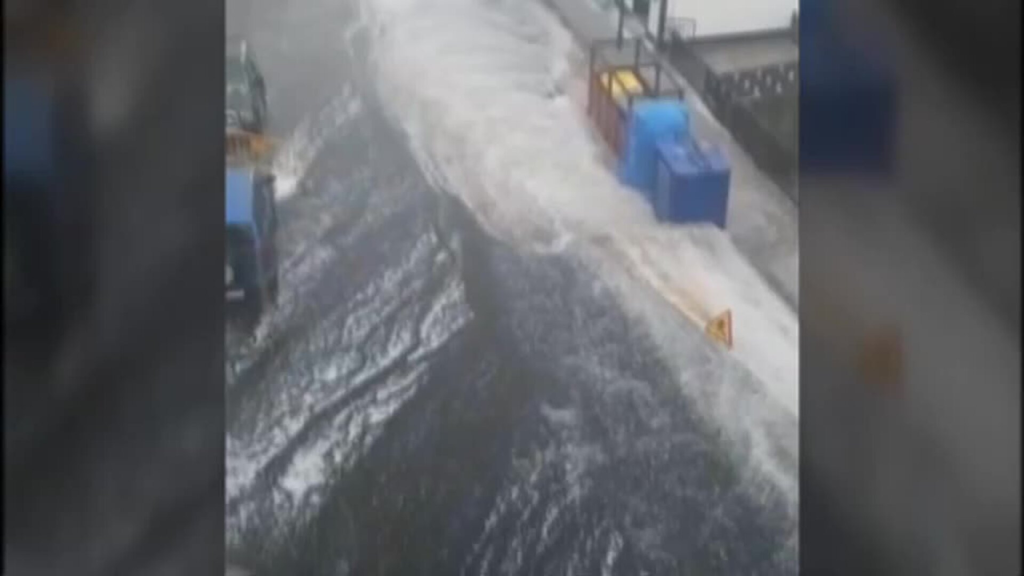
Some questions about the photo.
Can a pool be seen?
No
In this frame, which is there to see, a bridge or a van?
van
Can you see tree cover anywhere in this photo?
No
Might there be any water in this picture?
Yes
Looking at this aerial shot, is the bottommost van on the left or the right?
left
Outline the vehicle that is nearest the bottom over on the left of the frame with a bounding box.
[178,169,272,314]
